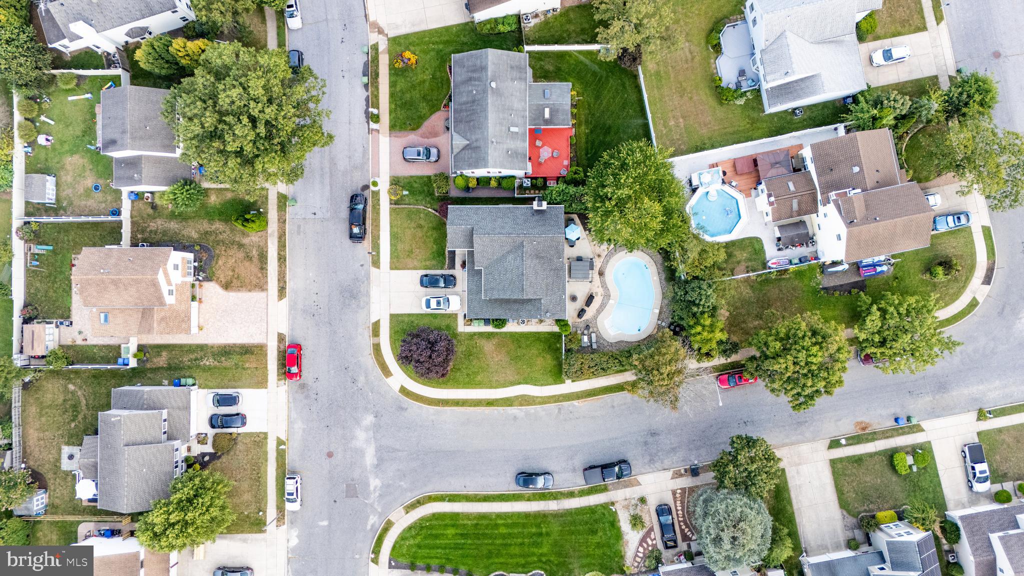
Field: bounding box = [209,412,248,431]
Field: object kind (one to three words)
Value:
car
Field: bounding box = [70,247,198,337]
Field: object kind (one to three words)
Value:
house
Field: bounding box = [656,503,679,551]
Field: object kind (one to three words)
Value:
truck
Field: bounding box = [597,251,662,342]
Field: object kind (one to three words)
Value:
swimming pool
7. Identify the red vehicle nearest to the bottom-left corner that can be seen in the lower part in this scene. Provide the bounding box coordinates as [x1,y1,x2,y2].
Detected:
[284,344,303,381]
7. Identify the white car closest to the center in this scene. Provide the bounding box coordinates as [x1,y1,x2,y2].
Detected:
[421,294,461,312]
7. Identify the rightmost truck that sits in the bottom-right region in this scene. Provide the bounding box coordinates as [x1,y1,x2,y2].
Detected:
[963,442,991,492]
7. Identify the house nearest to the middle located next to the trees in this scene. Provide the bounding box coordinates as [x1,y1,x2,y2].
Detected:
[445,199,568,319]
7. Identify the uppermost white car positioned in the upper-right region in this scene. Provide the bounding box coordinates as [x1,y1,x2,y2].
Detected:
[870,45,912,67]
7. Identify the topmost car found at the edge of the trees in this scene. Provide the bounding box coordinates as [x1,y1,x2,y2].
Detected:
[284,0,304,31]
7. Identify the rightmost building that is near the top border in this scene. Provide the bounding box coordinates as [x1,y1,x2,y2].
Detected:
[738,0,883,114]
